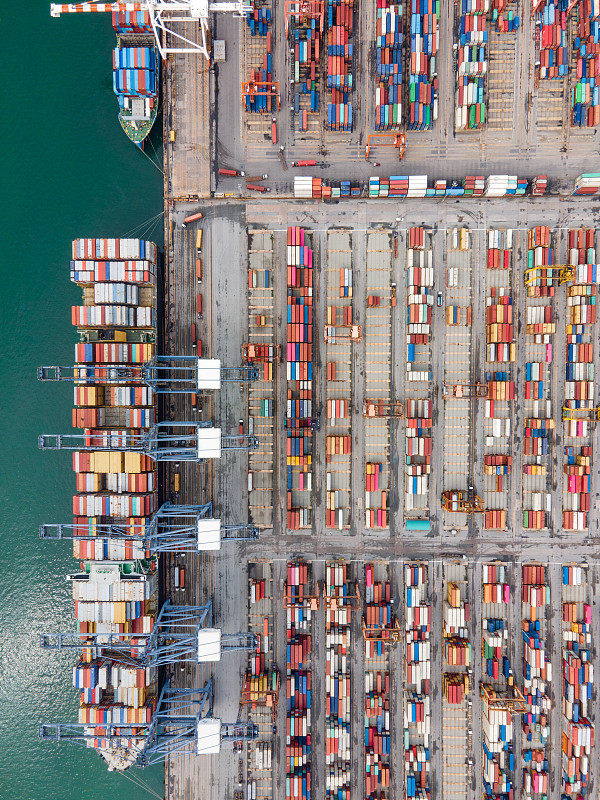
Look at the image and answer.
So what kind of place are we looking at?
port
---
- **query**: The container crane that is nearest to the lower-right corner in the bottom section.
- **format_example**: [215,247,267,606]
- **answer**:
[478,681,527,712]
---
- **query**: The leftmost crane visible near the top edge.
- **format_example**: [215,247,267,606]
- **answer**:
[51,0,248,69]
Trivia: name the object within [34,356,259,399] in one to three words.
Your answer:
container crane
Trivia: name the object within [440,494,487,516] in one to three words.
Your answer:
container crane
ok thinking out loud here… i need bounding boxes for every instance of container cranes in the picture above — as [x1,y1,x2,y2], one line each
[34,496,259,552]
[360,614,404,641]
[34,356,259,399]
[51,0,248,69]
[241,82,281,113]
[322,324,363,344]
[280,584,320,609]
[363,133,407,162]
[441,382,488,401]
[238,675,278,705]
[440,494,487,516]
[284,415,323,434]
[478,681,527,712]
[34,593,259,673]
[320,584,362,609]
[242,342,282,362]
[523,265,574,288]
[34,417,259,462]
[34,672,259,770]
[284,1,323,38]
